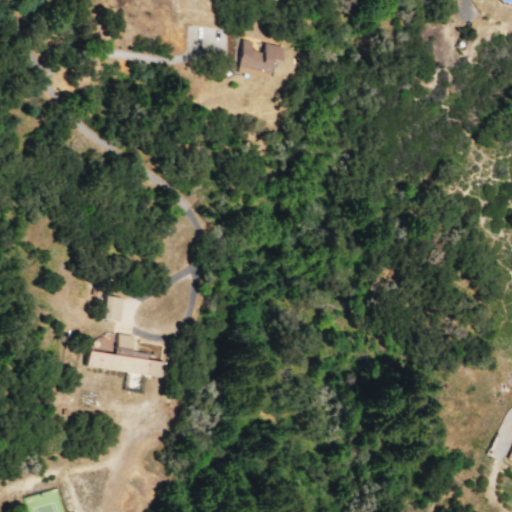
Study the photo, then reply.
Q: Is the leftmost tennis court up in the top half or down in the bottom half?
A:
bottom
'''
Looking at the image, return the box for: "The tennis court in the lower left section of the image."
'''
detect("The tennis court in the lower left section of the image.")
[24,488,64,512]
